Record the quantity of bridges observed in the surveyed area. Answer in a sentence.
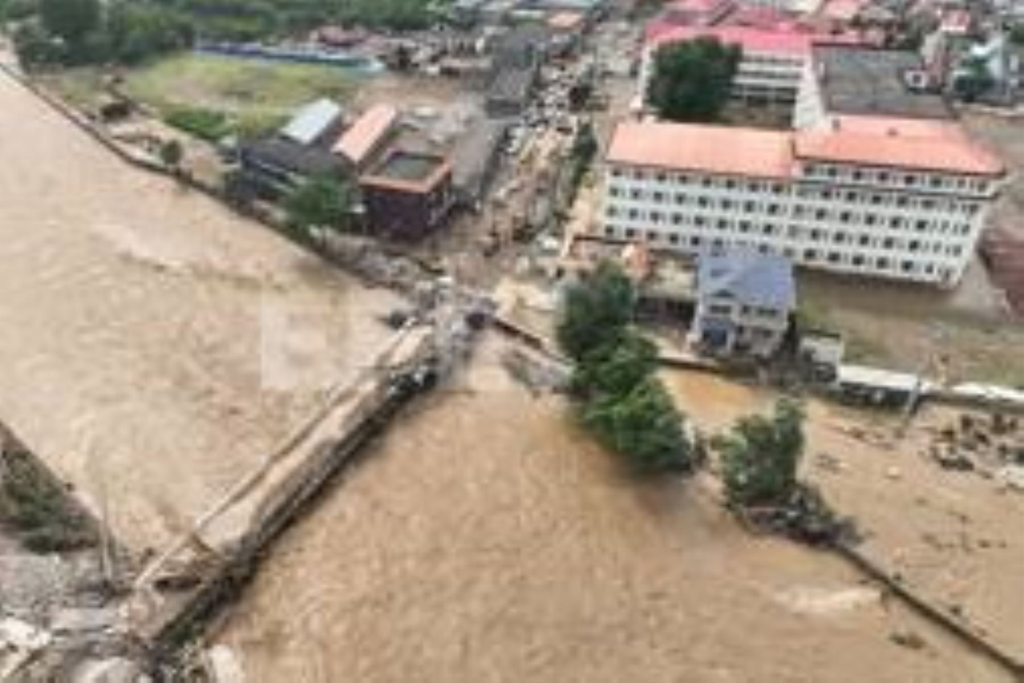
The picture shows just 1 bridge.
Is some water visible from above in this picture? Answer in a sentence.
Yes, the picture does contain water.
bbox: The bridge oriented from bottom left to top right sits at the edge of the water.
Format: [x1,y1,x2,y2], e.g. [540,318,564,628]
[99,315,468,661]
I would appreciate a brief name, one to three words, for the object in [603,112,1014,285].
building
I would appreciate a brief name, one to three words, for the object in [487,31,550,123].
building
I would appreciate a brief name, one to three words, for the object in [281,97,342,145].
shed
